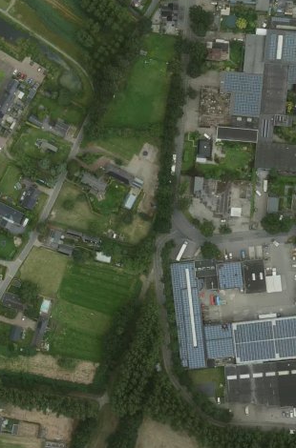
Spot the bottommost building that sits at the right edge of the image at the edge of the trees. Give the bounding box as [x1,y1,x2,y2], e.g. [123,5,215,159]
[223,360,296,407]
